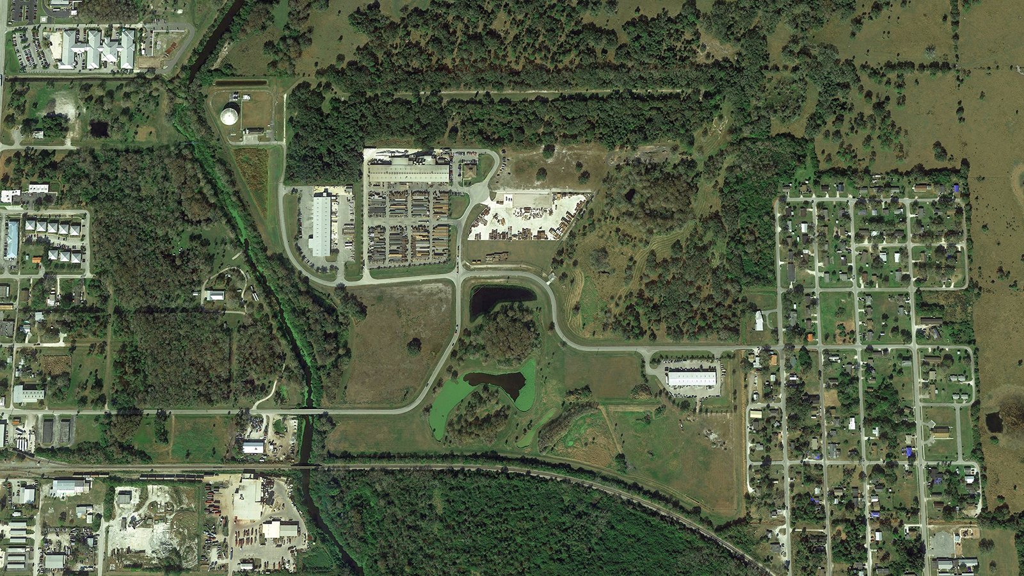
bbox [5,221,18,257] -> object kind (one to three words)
building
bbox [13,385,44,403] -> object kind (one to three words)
building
